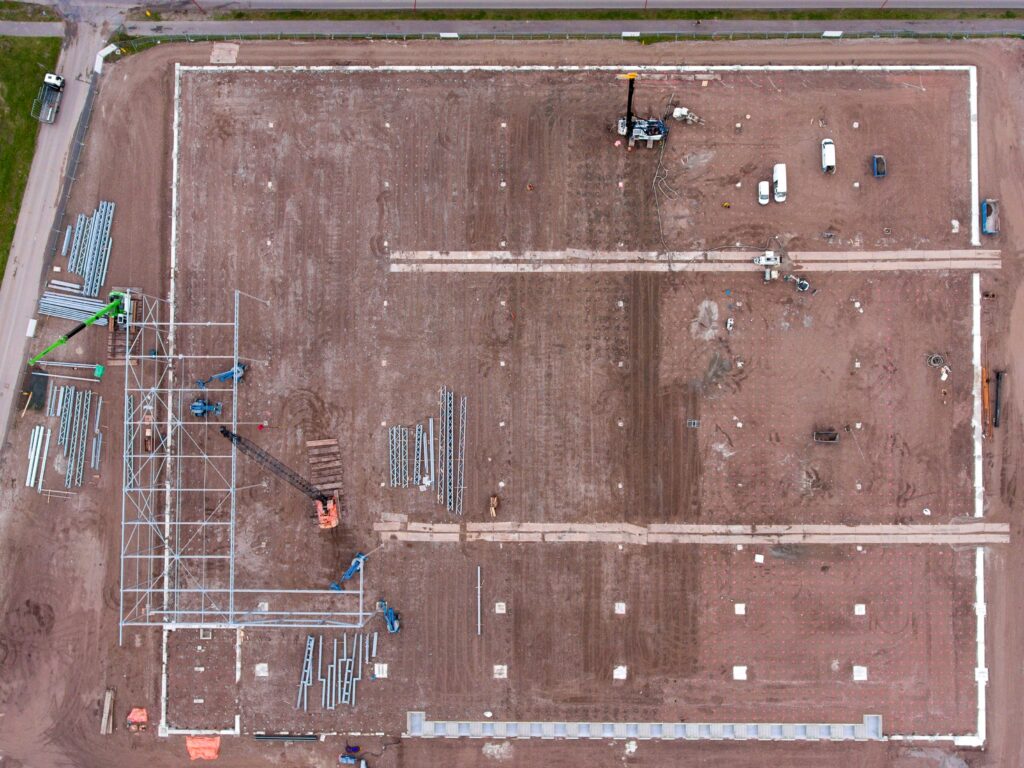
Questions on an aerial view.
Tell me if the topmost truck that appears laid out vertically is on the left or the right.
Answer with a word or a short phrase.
left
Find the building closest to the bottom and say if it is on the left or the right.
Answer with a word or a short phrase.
left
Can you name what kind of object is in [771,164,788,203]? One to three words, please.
vehicle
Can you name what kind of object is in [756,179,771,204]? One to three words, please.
vehicle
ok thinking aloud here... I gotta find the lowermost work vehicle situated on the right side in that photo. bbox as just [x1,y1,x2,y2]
[786,272,812,291]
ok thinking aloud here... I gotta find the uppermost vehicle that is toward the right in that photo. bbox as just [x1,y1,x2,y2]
[672,103,709,126]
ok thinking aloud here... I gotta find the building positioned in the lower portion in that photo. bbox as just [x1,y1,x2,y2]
[119,288,383,643]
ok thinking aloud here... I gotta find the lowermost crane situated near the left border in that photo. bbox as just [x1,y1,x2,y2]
[25,291,137,367]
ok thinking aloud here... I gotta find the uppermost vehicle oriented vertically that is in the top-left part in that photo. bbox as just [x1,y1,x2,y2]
[35,72,67,126]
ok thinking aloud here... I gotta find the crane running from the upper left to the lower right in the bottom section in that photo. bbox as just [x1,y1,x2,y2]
[219,428,343,530]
